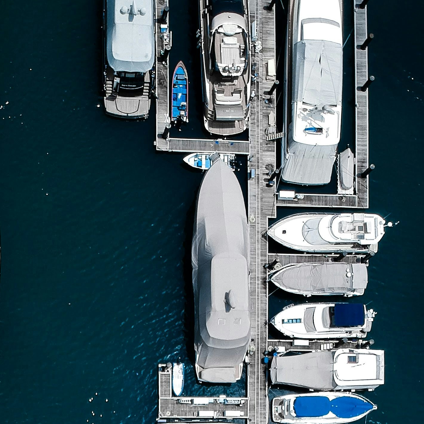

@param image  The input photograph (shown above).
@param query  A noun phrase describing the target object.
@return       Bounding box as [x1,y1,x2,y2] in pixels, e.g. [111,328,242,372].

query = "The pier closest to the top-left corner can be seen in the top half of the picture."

[155,0,169,152]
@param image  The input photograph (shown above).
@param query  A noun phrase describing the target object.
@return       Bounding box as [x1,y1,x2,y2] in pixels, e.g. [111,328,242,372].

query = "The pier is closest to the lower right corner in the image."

[268,340,369,359]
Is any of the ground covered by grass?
No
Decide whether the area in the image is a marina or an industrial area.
marina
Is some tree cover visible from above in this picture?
No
